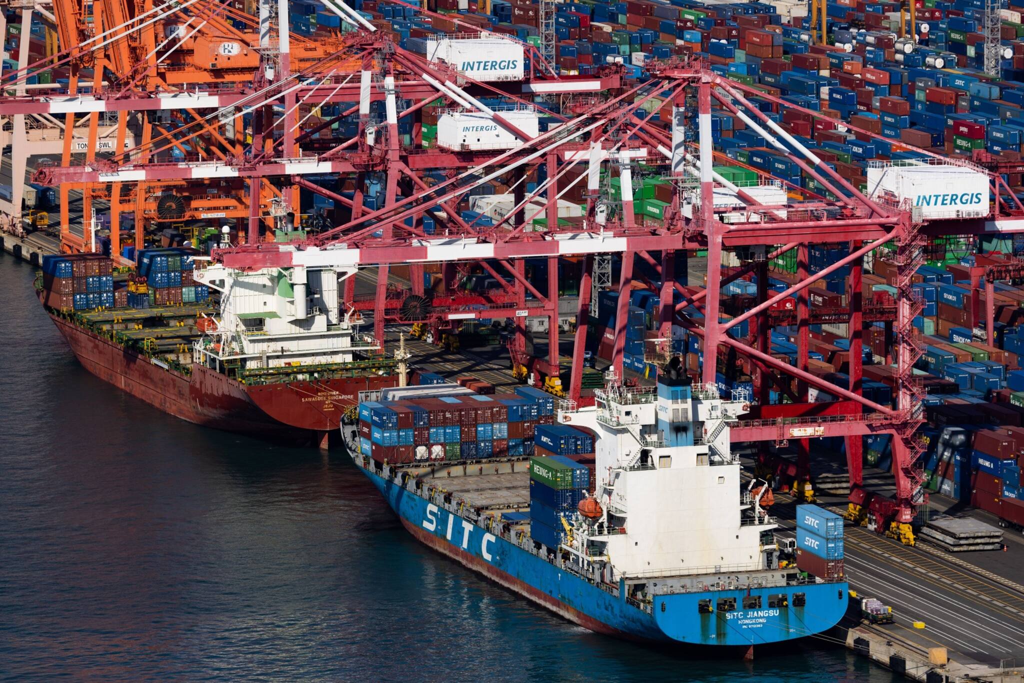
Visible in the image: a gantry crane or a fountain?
gantry crane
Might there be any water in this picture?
Yes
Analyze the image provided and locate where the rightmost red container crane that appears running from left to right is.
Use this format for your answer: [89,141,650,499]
[929,149,1024,182]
